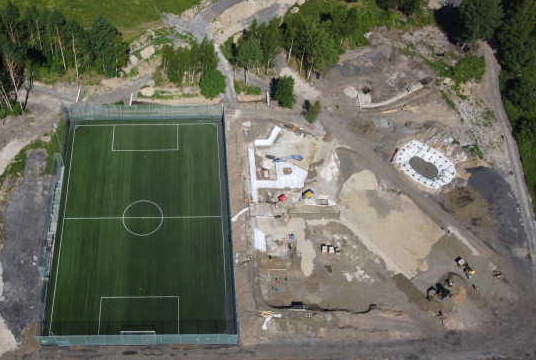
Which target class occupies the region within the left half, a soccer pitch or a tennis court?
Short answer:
soccer pitch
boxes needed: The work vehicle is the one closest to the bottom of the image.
[428,285,453,299]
